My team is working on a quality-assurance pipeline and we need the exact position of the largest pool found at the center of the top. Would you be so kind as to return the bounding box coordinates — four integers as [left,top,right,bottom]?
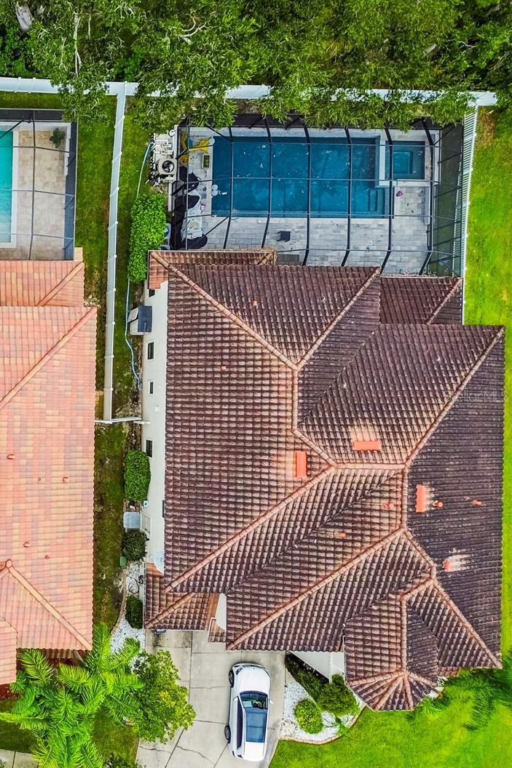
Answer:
[168,124,429,222]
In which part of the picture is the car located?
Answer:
bottom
